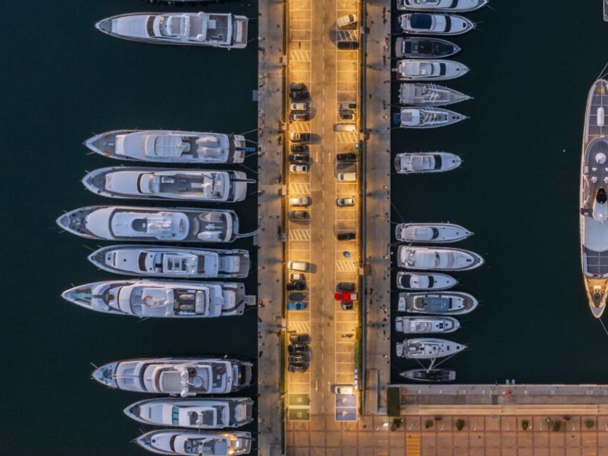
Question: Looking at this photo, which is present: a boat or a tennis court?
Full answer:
This aerial view contains a boat.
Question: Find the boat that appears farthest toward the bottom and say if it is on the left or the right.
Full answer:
The boat that appears farthest toward the bottom sits on the left side.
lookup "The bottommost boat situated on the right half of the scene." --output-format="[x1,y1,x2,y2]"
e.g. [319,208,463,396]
[398,369,455,381]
